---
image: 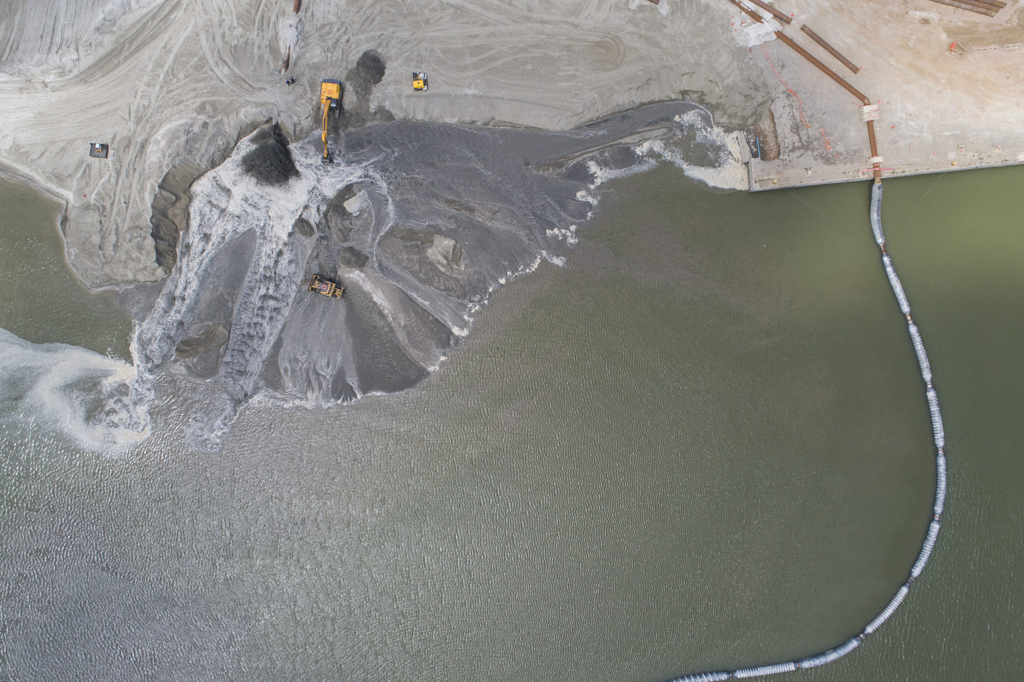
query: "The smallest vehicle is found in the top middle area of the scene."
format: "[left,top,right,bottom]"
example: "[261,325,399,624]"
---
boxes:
[413,71,429,93]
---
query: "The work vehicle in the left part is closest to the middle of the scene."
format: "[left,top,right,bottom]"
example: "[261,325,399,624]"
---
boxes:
[305,272,344,298]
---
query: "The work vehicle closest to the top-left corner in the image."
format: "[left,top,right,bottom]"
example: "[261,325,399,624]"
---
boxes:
[319,79,346,164]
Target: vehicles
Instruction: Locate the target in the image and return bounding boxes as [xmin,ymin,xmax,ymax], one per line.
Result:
[319,79,346,164]
[305,272,344,298]
[413,71,429,93]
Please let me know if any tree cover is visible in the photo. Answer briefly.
No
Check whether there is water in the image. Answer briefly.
Yes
